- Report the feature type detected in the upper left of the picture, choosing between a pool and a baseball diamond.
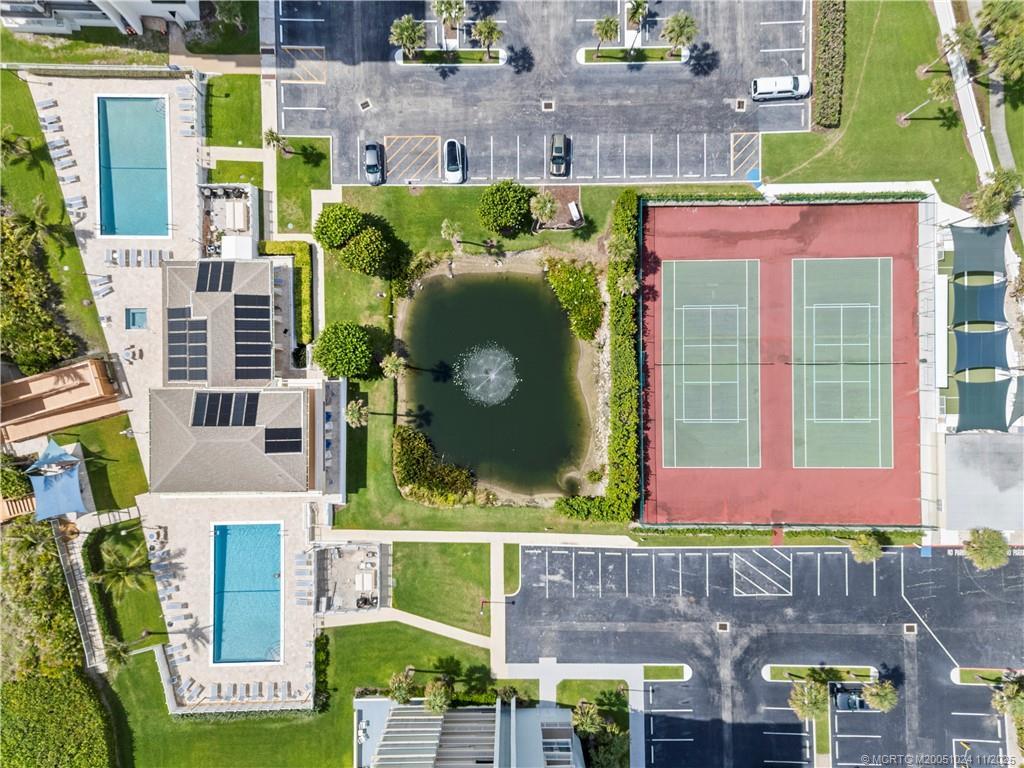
pool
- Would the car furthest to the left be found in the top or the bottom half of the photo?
top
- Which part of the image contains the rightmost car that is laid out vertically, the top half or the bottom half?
top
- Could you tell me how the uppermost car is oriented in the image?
from side to side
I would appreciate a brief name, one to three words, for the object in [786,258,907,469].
tennis court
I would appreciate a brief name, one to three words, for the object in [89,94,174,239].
swimming pool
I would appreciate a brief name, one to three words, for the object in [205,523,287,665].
swimming pool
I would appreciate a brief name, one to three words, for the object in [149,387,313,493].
building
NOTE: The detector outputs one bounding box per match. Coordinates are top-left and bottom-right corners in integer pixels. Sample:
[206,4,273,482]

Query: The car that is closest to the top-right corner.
[751,75,808,102]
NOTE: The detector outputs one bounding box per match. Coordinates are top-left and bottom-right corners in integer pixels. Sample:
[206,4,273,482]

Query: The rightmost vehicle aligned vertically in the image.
[549,134,570,178]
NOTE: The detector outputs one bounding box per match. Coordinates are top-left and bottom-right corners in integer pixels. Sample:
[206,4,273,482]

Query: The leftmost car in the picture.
[363,142,383,186]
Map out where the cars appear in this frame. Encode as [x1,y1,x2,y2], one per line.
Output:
[443,140,464,184]
[836,690,880,713]
[751,75,808,102]
[363,142,383,186]
[549,134,570,178]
